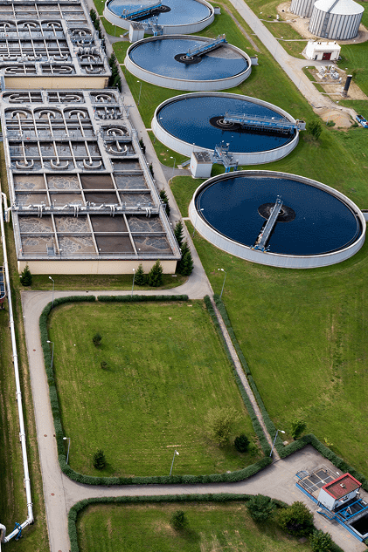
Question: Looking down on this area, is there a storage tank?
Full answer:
Yes, you can see a storage tank in this photo.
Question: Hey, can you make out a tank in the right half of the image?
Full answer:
Yes, a tank is visible in the right half of the image.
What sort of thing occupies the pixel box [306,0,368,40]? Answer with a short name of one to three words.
storage tank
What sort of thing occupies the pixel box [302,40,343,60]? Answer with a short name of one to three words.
house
